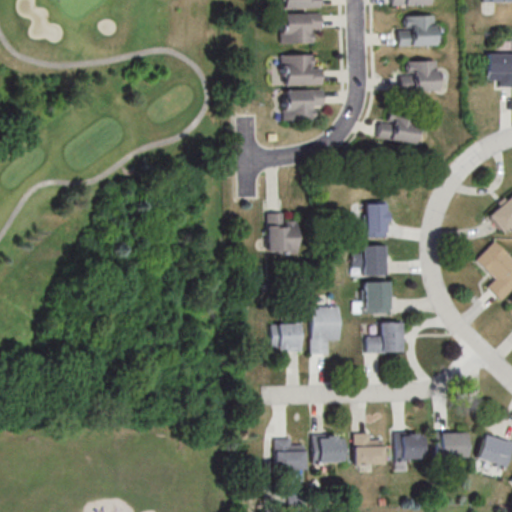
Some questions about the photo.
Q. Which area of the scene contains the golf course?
top left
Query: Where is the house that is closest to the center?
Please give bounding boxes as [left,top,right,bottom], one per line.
[266,212,302,256]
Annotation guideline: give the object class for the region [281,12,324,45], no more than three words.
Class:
house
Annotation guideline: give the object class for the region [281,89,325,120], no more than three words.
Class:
house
